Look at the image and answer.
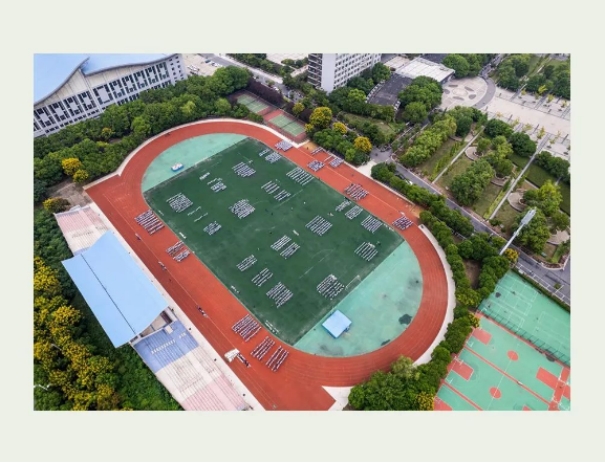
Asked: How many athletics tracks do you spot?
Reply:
1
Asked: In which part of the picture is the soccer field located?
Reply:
center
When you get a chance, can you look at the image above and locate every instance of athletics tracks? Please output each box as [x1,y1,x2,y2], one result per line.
[84,123,451,450]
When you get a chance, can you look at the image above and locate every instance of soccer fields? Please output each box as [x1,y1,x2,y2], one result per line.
[143,137,404,346]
